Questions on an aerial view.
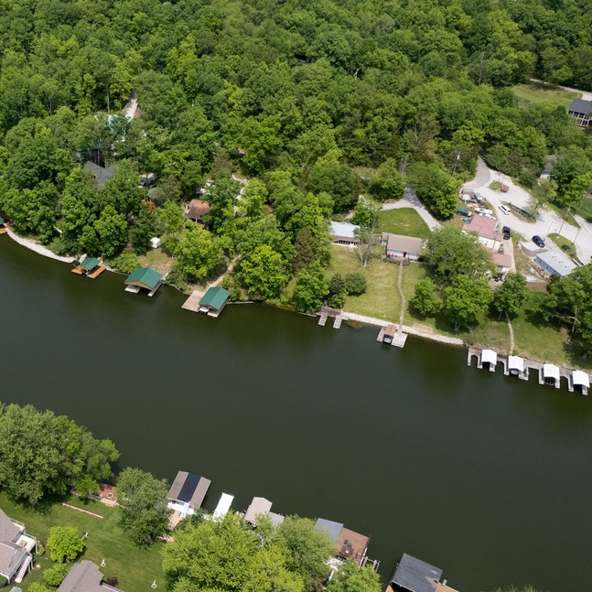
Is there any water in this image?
Yes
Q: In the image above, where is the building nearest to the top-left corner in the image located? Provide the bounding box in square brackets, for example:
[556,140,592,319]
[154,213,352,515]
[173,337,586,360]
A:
[80,161,112,186]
